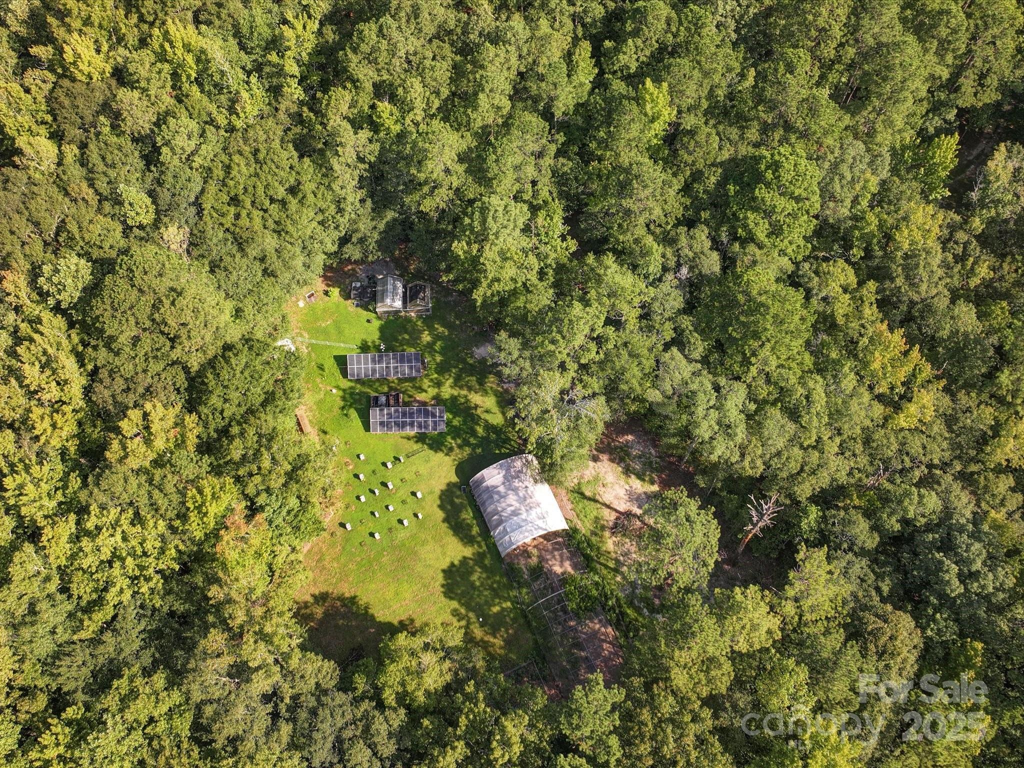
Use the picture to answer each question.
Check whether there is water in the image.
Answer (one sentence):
No, water can't be seen anywhere here.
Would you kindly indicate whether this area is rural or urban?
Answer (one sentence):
It looks rural.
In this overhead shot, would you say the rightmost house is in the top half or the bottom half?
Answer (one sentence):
It is in the bottom half that the rightmost house appears.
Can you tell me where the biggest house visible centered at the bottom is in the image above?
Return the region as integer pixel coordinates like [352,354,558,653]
[469,452,630,695]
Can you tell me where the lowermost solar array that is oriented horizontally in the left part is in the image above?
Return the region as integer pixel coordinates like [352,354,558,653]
[370,407,446,433]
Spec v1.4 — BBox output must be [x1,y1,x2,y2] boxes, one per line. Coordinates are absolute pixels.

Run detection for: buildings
[403,281,431,314]
[376,275,404,316]
[469,452,630,695]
